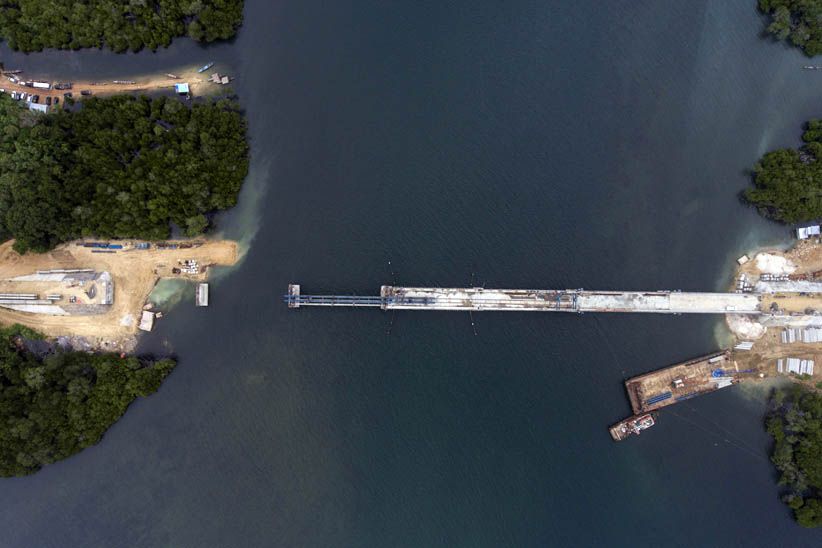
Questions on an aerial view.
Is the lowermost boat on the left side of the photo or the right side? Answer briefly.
right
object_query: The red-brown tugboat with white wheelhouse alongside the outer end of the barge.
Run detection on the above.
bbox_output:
[609,414,655,440]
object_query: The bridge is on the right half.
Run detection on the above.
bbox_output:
[382,286,767,315]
